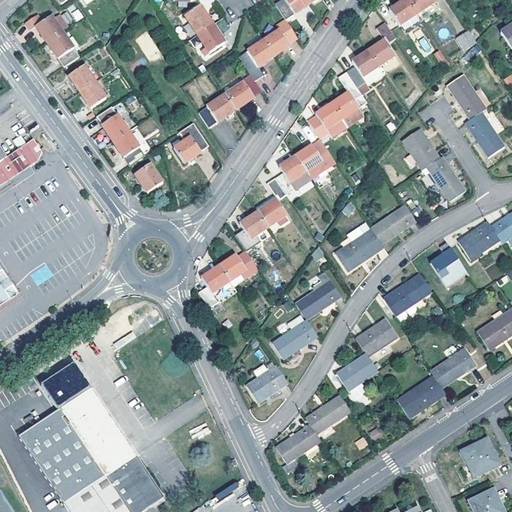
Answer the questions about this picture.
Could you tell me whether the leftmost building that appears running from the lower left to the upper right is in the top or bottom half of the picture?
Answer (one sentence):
You can find the leftmost building that appears running from the lower left to the upper right in the top half.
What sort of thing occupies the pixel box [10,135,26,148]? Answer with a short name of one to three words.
vehicle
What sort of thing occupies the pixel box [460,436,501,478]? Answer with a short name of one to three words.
house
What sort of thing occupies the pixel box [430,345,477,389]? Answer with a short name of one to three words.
house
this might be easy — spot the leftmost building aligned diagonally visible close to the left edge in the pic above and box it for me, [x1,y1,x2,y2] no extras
[0,140,44,190]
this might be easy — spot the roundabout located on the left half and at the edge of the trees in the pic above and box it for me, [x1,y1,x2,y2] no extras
[116,220,190,293]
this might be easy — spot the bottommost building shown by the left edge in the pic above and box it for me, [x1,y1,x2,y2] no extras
[20,362,174,512]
